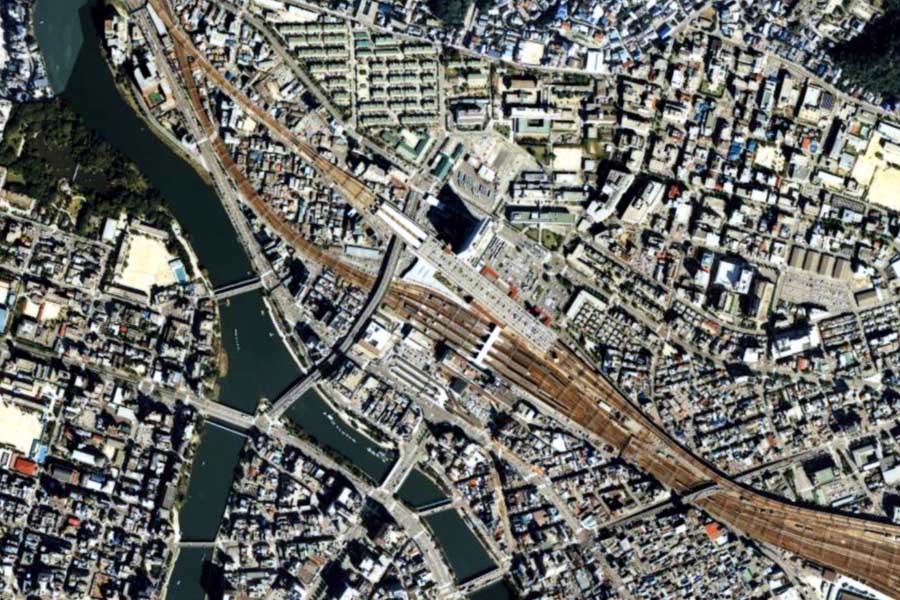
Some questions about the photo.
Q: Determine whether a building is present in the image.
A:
Yes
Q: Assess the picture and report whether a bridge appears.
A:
Yes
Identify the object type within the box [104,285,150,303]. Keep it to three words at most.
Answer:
building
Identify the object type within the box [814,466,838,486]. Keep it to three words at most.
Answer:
building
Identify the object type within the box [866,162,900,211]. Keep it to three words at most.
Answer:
sports field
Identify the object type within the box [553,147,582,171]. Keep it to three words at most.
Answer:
sports field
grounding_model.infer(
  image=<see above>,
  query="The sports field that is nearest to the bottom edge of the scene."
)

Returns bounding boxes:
[0,401,42,457]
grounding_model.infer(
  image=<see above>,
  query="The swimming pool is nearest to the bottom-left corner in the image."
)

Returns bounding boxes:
[30,442,47,463]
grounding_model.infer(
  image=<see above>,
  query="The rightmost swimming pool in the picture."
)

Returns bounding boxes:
[170,259,188,285]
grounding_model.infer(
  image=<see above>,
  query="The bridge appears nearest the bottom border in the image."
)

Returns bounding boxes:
[446,563,510,597]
